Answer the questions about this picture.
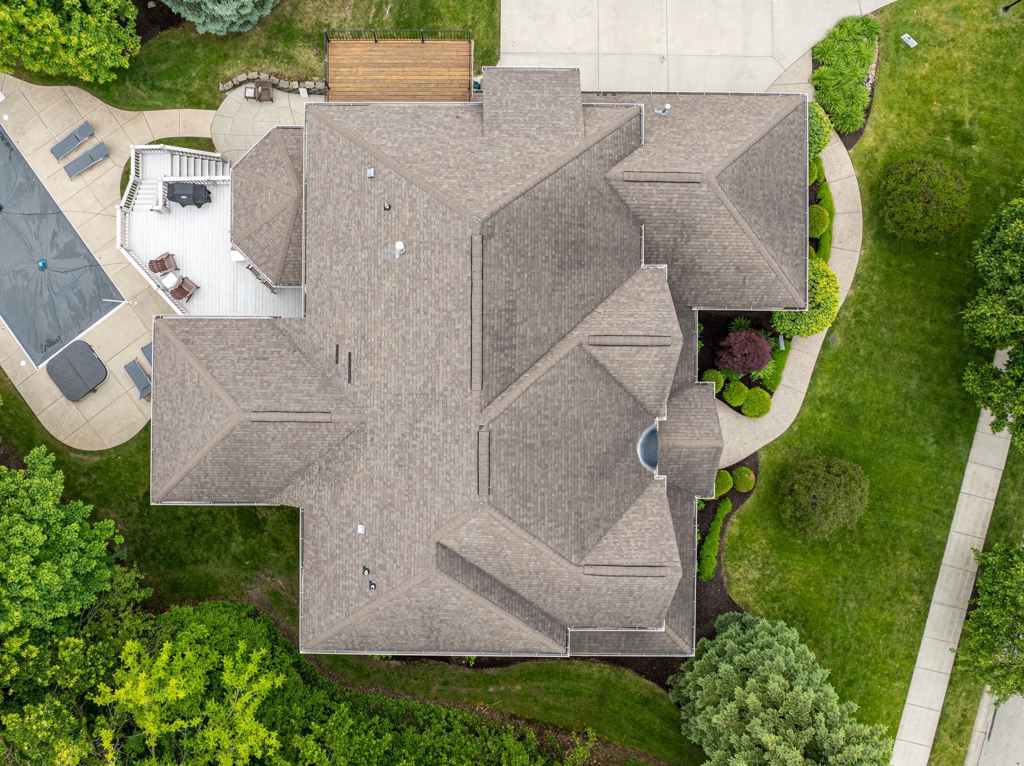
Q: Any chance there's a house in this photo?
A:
Yes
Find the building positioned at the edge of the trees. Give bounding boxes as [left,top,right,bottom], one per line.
[150,67,809,657]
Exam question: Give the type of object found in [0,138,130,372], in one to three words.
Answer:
swimming pool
